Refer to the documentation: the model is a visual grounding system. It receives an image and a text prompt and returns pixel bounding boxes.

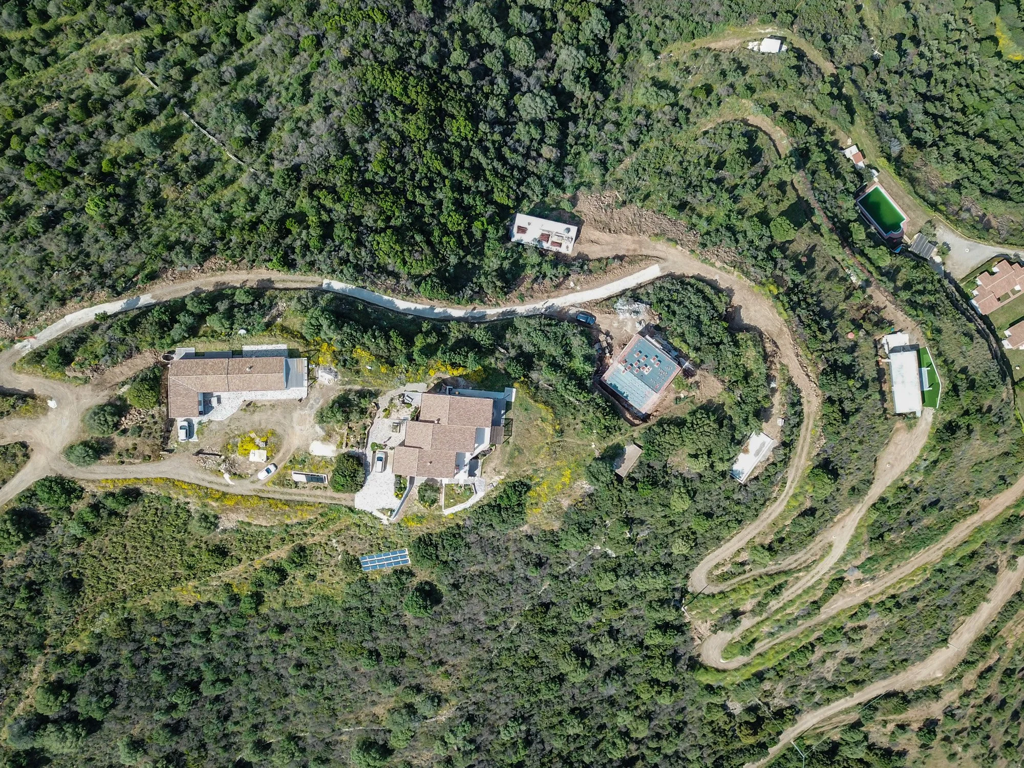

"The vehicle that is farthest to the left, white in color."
[175,421,188,442]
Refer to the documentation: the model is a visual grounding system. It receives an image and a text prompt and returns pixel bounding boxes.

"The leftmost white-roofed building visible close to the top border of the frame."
[756,38,781,59]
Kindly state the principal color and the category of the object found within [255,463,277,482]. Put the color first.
white car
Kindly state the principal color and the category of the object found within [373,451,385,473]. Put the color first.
white vehicle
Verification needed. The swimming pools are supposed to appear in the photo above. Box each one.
[853,180,911,243]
